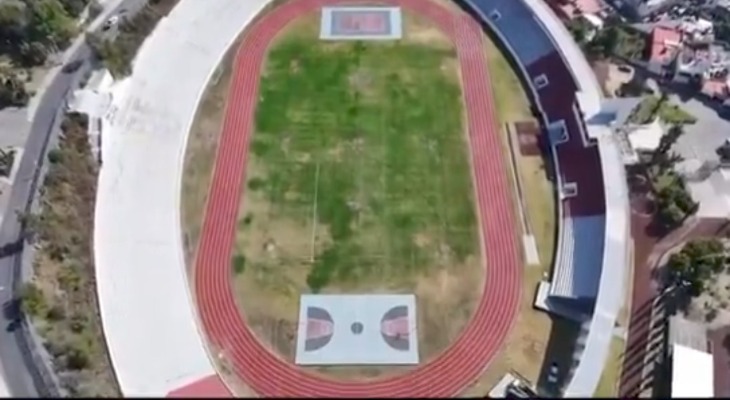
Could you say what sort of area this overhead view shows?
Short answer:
sports ground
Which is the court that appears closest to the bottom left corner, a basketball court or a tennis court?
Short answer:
basketball court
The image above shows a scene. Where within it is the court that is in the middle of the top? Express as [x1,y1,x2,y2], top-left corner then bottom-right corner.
[320,6,402,40]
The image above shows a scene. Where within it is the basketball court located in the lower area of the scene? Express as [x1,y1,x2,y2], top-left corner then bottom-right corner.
[296,293,418,364]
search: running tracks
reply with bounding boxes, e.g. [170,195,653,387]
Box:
[195,0,521,400]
